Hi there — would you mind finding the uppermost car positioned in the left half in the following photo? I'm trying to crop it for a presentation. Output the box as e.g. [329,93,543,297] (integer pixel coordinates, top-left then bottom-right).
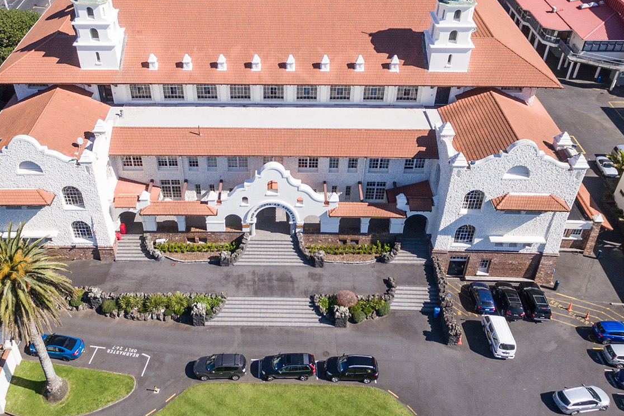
[36,334,83,366]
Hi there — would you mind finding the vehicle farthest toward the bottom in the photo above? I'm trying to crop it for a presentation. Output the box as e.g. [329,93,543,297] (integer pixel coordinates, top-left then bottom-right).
[557,384,614,416]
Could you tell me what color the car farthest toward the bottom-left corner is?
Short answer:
blue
